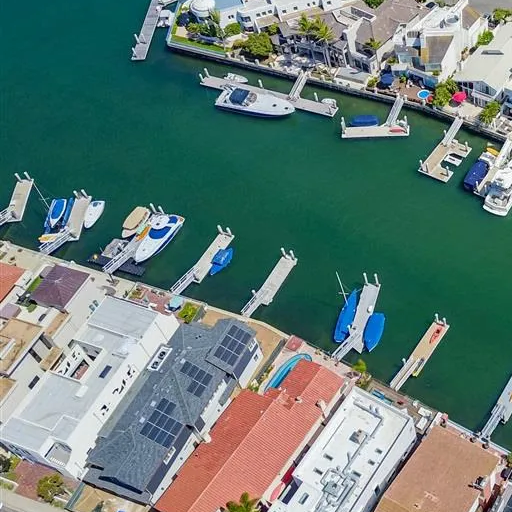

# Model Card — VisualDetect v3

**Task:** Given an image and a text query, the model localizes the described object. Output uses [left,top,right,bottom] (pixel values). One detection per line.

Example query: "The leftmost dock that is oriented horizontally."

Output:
[199,68,337,119]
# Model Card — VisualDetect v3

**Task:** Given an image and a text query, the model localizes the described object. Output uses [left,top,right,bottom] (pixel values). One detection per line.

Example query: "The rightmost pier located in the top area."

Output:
[473,132,512,199]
